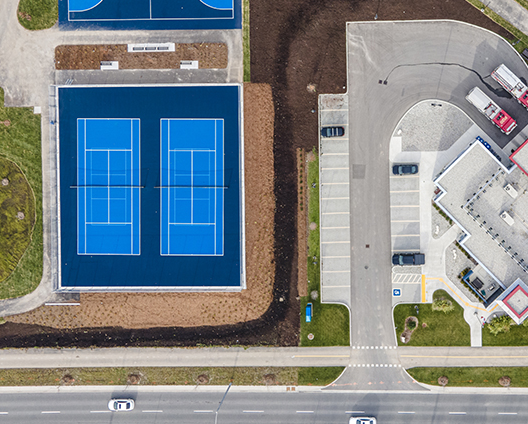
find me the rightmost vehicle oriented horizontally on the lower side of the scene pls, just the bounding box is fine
[392,252,426,267]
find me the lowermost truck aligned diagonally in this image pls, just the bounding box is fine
[465,89,515,137]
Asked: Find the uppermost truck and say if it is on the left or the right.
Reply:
right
